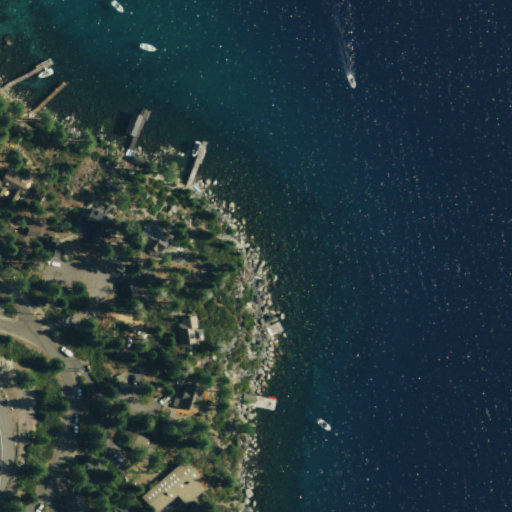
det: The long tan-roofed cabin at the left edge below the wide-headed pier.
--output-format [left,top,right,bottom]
[2,174,34,200]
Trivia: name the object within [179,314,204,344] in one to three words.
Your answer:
house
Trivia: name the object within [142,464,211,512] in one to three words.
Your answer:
building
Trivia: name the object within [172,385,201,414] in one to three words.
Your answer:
house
